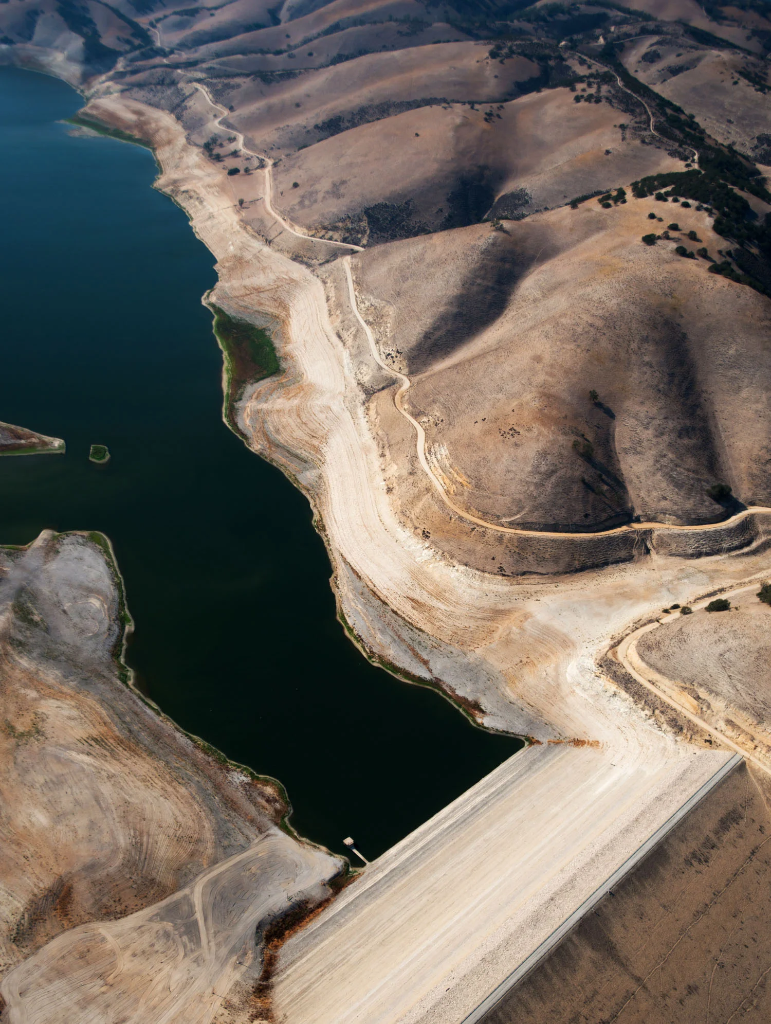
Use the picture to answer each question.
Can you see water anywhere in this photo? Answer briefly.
Yes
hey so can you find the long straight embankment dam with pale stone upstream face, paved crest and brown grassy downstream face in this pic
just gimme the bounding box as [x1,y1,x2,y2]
[274,740,771,1024]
